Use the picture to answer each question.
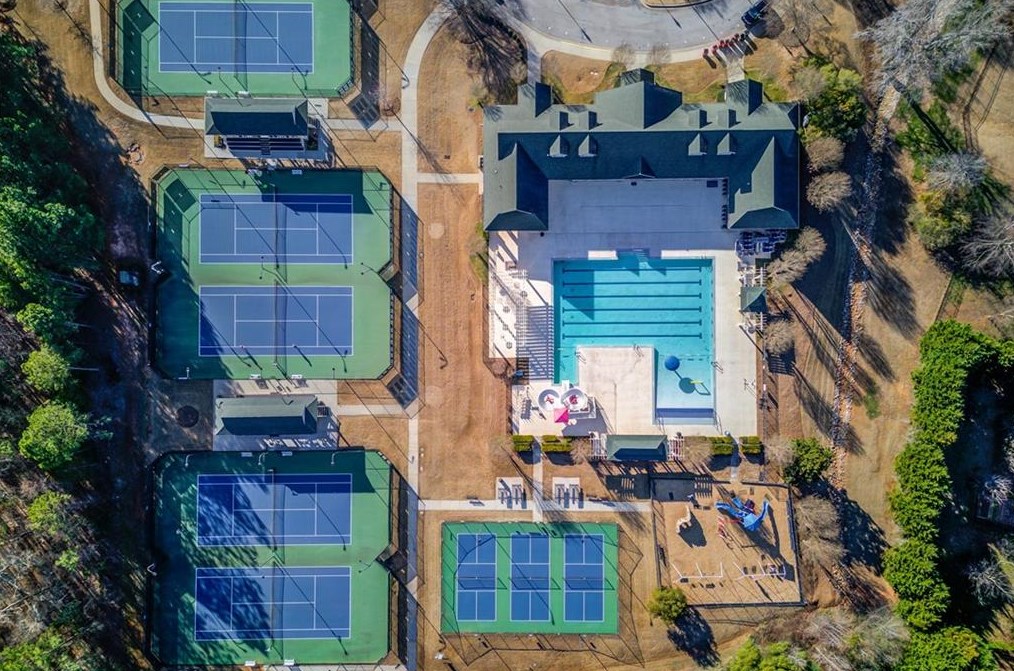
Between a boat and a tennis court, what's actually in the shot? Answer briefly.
tennis court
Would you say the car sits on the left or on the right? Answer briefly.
right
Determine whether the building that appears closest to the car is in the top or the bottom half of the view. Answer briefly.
top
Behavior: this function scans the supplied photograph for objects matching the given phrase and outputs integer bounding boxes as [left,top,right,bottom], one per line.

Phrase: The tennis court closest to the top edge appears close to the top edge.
[119,0,352,96]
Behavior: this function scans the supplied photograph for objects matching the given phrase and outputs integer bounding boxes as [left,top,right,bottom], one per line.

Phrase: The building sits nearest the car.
[483,69,808,232]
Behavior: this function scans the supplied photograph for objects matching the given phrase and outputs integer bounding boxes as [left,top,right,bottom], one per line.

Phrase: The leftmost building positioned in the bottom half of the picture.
[216,397,322,435]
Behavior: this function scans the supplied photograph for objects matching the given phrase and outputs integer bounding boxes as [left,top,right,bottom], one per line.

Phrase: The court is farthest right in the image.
[558,523,618,633]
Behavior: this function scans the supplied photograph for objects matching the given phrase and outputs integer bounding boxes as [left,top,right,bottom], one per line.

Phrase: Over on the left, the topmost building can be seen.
[204,98,313,141]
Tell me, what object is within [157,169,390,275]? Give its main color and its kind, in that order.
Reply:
blue tennis court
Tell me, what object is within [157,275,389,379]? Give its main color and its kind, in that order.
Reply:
blue tennis court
